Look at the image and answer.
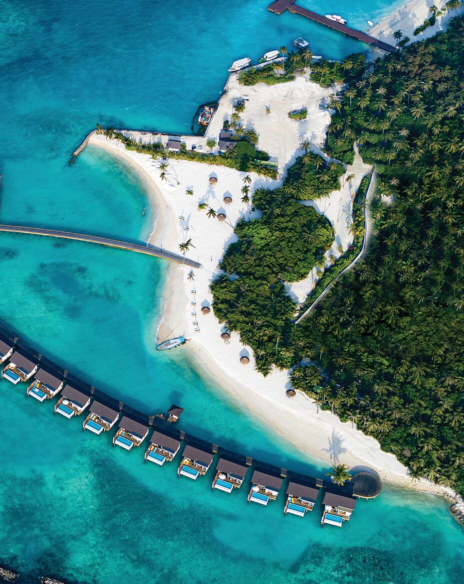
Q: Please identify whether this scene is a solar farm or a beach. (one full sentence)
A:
It's a beach.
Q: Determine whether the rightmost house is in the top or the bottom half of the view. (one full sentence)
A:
The bottom half of the photo is where the rightmost house is.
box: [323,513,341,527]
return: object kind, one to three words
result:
swimming pool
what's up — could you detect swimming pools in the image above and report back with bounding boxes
[30,387,47,401]
[58,403,74,417]
[323,513,341,527]
[86,419,103,433]
[5,370,21,384]
[147,450,165,465]
[285,503,303,516]
[213,478,231,492]
[250,492,268,505]
[116,435,132,449]
[179,465,197,479]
